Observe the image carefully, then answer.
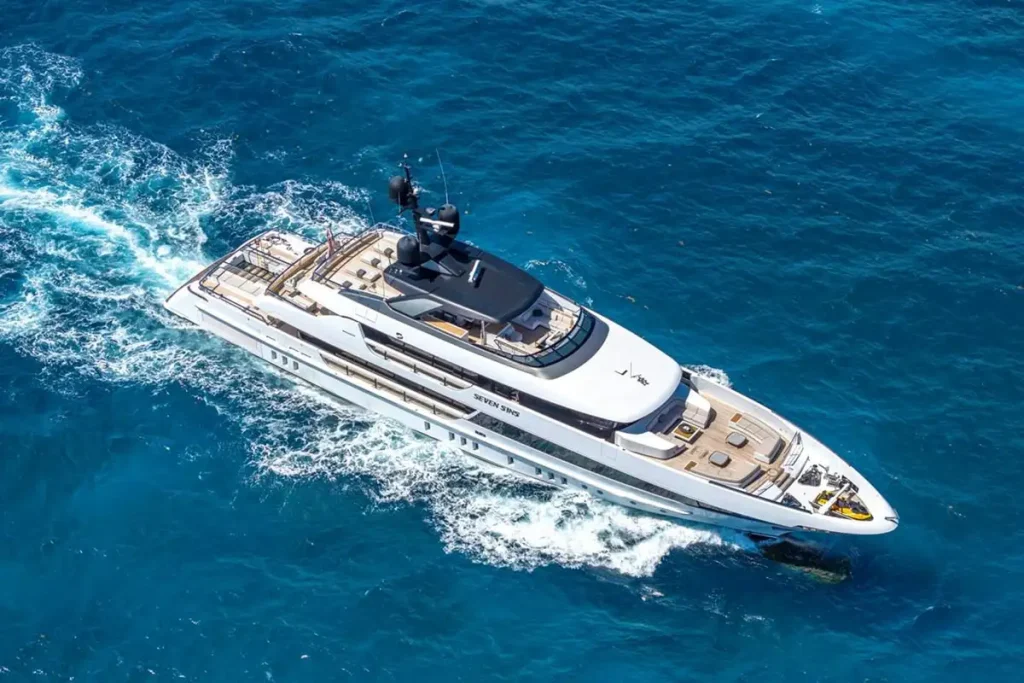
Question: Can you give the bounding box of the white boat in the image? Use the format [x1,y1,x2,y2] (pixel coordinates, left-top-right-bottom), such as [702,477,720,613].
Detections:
[165,149,902,592]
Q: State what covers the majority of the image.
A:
water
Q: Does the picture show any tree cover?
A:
No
